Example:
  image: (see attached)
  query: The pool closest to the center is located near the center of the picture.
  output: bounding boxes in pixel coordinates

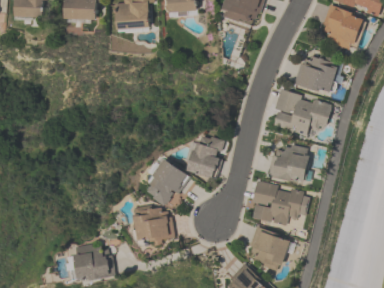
[172,146,190,160]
